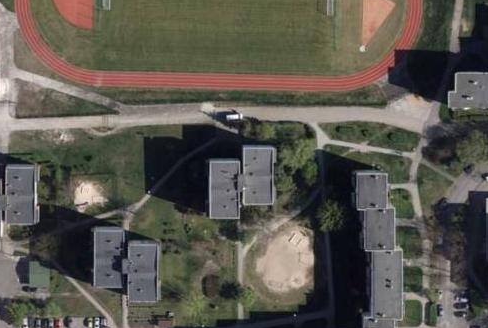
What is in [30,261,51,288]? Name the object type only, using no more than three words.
shed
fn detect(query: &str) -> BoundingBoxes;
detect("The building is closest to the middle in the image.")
[210,146,279,220]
